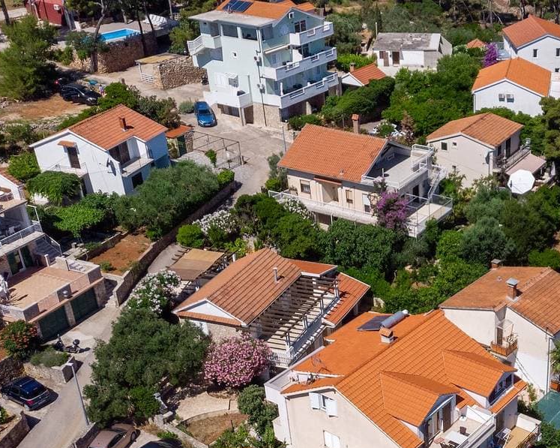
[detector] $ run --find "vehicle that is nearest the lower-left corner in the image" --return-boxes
[0,376,48,408]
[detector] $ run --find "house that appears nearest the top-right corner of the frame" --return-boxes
[502,16,560,89]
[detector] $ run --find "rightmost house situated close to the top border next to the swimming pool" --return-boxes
[184,0,338,128]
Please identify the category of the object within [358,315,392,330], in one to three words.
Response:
solar panel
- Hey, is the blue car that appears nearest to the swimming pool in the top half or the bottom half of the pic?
top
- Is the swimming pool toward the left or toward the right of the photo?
left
